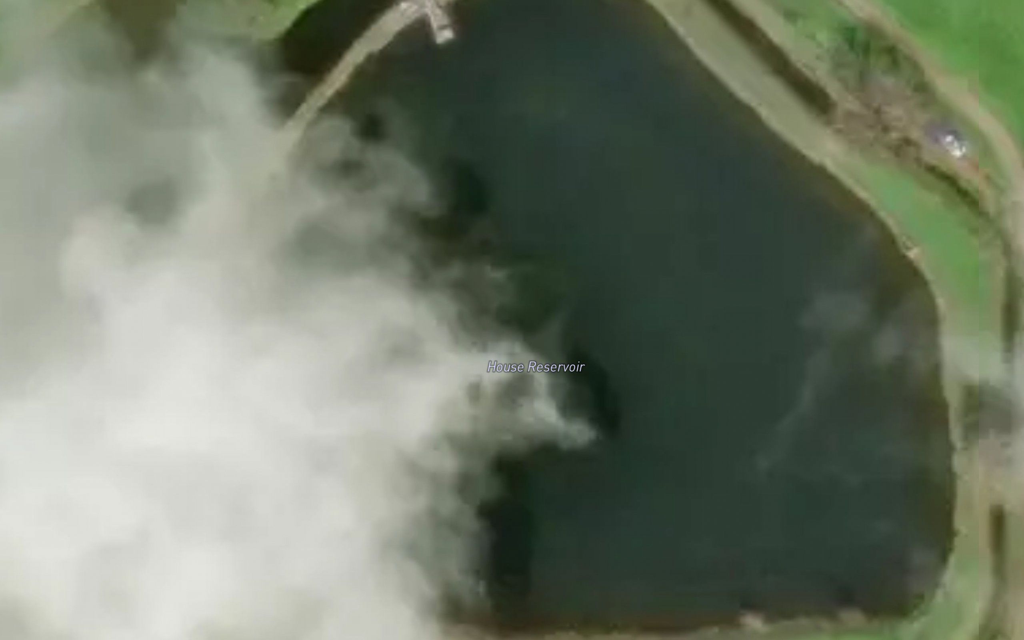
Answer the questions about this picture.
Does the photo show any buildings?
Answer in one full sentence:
No, I find no building anywhere in the image.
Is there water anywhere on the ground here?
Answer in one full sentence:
Yes, there's water in this view.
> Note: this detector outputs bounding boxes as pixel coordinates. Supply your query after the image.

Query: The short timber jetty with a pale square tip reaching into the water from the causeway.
[427,0,453,42]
